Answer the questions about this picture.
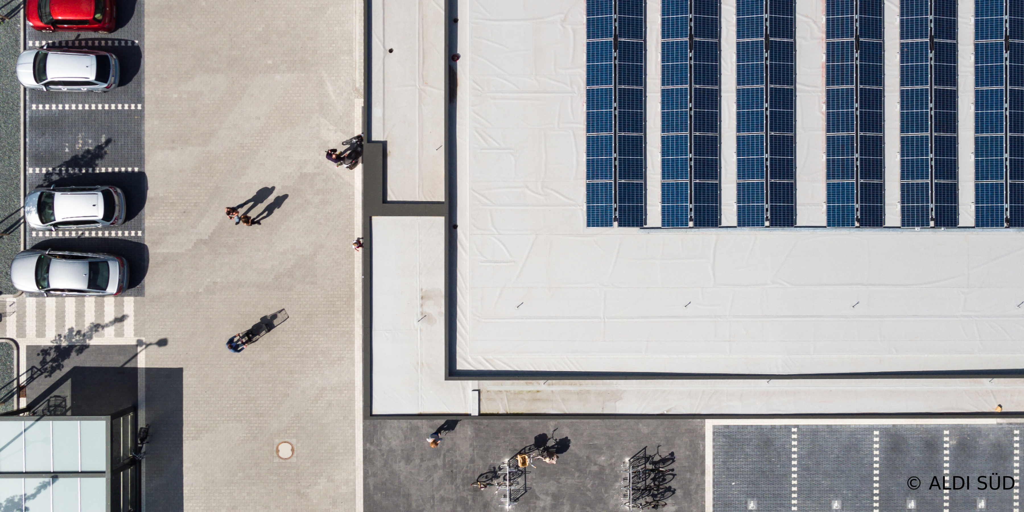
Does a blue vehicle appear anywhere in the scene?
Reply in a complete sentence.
No, I can't see a single blue vehicle in this photo.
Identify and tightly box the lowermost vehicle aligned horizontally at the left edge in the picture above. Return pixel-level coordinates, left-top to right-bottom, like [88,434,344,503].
[9,245,131,302]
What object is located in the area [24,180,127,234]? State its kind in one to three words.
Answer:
car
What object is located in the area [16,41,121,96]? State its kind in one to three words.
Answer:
car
